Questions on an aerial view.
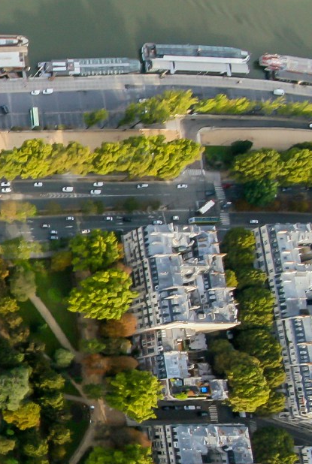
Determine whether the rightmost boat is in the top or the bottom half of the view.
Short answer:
top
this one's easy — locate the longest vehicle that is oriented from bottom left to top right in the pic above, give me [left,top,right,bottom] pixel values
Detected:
[198,195,222,214]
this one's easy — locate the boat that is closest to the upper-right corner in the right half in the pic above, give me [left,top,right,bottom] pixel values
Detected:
[257,54,312,76]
